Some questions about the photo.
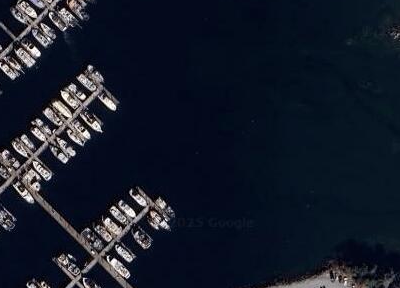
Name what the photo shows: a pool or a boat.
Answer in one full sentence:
The image shows a boat.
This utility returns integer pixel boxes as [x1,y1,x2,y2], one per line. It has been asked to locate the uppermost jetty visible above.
[0,0,63,69]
